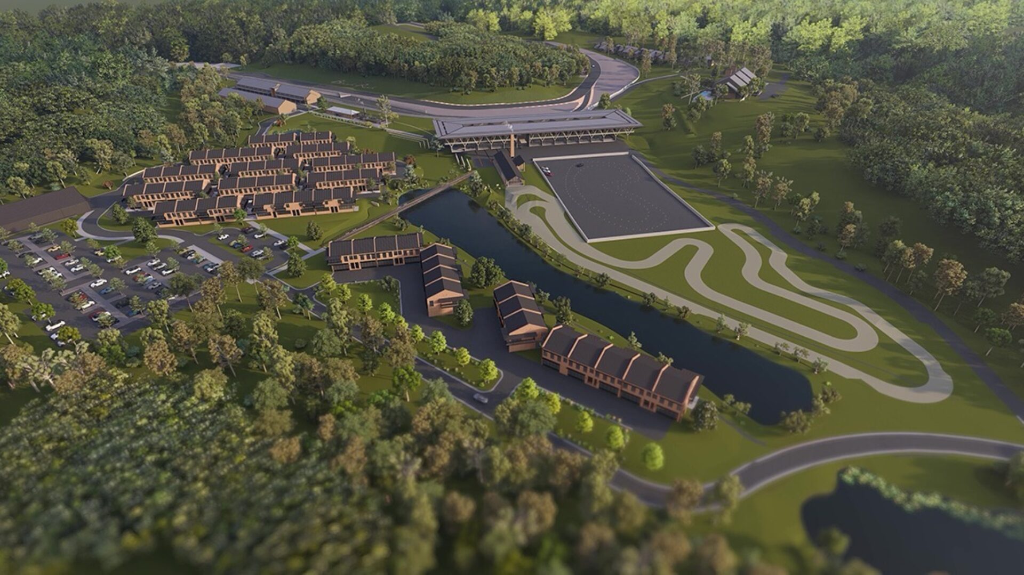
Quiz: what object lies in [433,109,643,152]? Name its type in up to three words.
building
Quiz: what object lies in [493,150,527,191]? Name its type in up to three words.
building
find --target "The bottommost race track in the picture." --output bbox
[534,201,962,406]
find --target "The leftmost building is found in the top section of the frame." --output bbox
[0,189,92,237]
